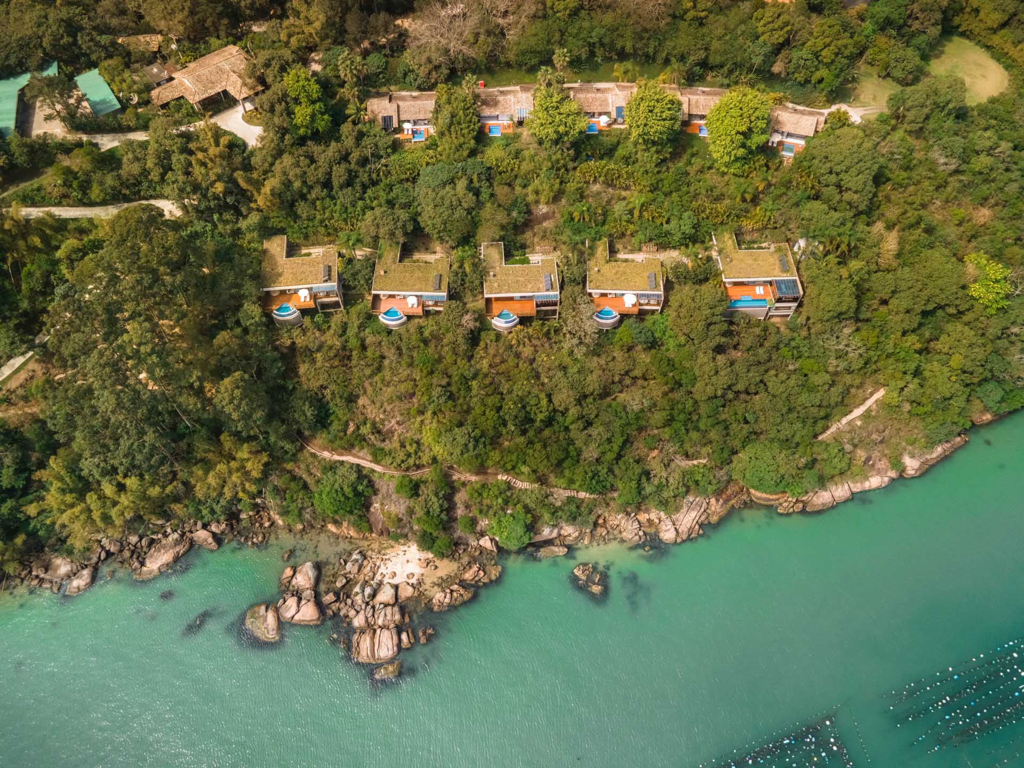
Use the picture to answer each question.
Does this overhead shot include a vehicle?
No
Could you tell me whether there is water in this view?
Yes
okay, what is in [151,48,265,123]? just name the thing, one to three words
building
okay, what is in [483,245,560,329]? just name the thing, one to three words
house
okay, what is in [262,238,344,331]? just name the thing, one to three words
house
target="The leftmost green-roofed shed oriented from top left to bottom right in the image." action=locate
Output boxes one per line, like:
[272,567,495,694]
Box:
[74,69,129,139]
